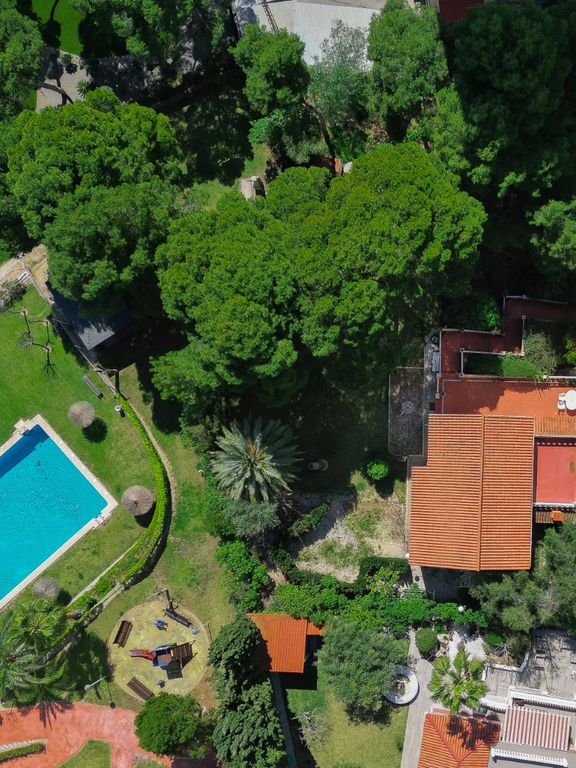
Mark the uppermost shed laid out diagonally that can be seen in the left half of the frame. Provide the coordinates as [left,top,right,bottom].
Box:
[47,287,131,350]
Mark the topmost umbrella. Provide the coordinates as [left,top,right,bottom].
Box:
[68,399,98,428]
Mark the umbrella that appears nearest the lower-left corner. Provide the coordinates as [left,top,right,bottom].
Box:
[33,574,62,602]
